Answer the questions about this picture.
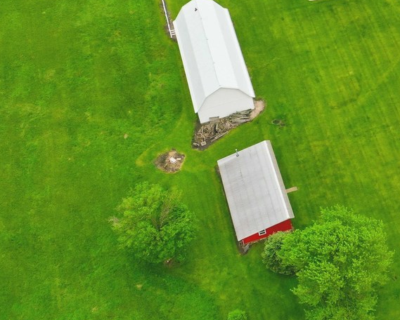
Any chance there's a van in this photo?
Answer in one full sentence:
No, there appears to be no van in this shot.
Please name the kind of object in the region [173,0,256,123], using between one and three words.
barn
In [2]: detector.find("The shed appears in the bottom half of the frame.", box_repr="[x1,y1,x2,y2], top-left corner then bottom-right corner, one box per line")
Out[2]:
[218,141,294,244]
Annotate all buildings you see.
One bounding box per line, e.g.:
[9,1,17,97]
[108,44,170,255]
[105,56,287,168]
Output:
[173,0,256,123]
[218,141,294,244]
